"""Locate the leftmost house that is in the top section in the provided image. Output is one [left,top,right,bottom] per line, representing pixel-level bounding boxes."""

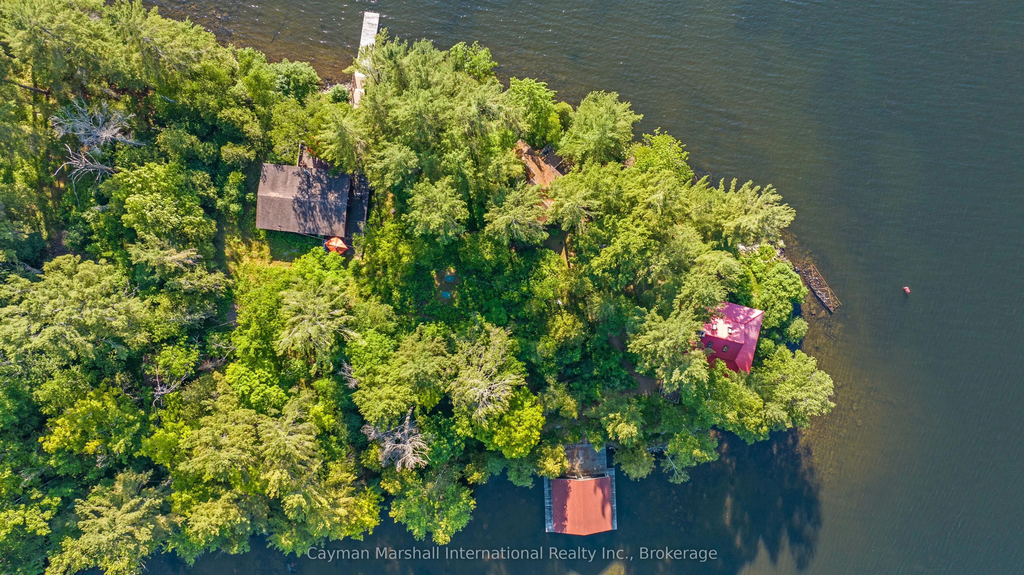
[256,163,352,237]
